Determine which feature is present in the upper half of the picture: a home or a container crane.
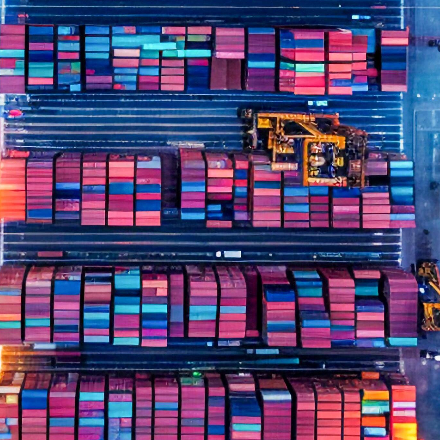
container crane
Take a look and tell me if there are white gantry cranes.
No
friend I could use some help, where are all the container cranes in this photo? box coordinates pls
[237,108,370,189]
